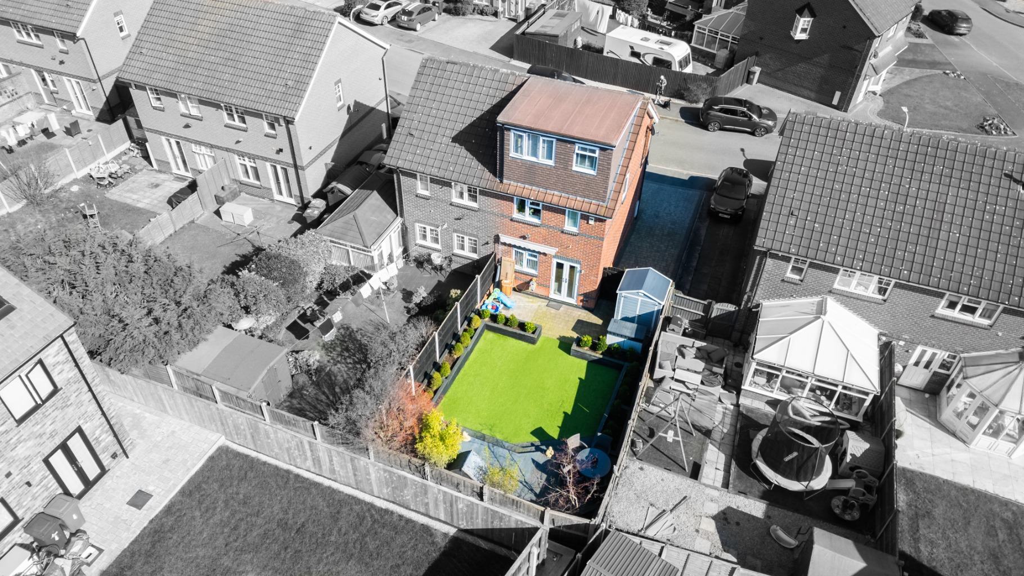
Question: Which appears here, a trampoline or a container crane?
trampoline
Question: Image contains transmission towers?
No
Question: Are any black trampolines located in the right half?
Yes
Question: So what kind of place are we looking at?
residential area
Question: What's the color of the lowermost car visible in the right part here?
black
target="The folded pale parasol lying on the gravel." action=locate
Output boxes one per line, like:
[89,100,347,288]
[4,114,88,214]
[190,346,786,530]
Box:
[638,497,688,540]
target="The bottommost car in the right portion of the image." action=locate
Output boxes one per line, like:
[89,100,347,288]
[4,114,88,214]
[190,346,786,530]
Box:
[708,157,756,215]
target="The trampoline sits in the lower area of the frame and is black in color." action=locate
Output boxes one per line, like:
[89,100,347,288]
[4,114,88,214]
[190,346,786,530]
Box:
[749,404,840,508]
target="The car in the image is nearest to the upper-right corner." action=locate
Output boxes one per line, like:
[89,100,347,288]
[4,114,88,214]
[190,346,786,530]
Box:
[929,11,973,39]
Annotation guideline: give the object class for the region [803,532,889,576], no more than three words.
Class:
shed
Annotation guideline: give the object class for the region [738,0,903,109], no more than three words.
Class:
house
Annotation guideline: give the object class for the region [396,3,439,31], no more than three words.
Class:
car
